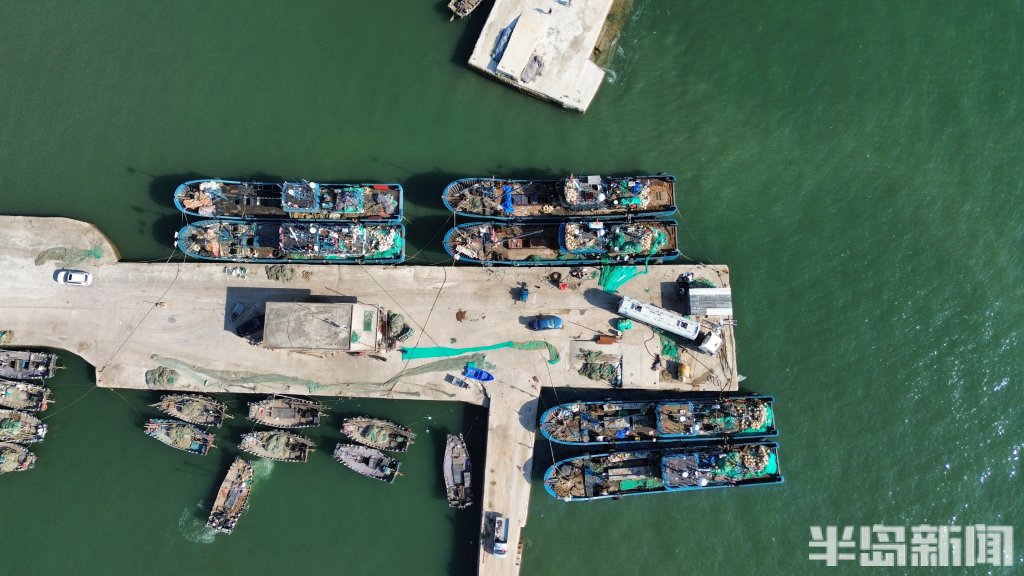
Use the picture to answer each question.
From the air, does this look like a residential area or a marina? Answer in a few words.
marina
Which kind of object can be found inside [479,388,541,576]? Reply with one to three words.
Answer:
pier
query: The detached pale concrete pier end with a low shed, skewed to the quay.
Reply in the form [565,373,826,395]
[468,0,614,116]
